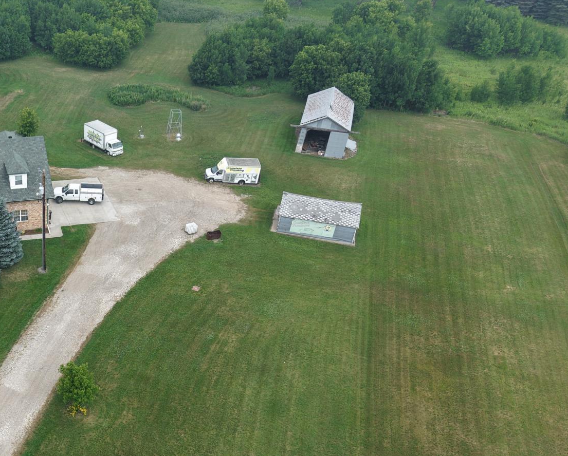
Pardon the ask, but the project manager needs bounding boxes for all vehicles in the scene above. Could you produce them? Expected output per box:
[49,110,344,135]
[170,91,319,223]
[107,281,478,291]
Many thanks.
[51,184,104,205]
[204,154,259,185]
[77,118,123,155]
